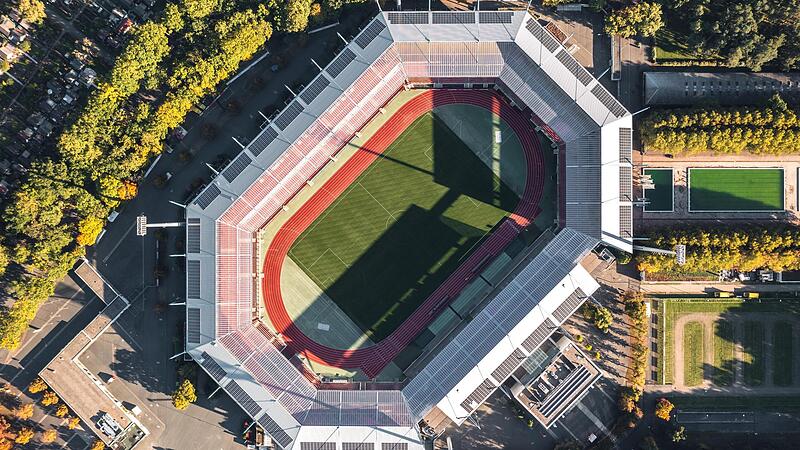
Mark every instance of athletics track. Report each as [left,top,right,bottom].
[257,82,560,384]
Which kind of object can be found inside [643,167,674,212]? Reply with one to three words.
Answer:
swimming pool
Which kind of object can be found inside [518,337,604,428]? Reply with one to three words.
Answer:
building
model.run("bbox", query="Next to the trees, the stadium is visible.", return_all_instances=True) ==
[168,0,649,450]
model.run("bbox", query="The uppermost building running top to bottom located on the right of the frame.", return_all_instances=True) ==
[609,37,623,82]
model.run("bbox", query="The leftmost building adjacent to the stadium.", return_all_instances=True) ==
[38,260,156,450]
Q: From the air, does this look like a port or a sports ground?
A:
sports ground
